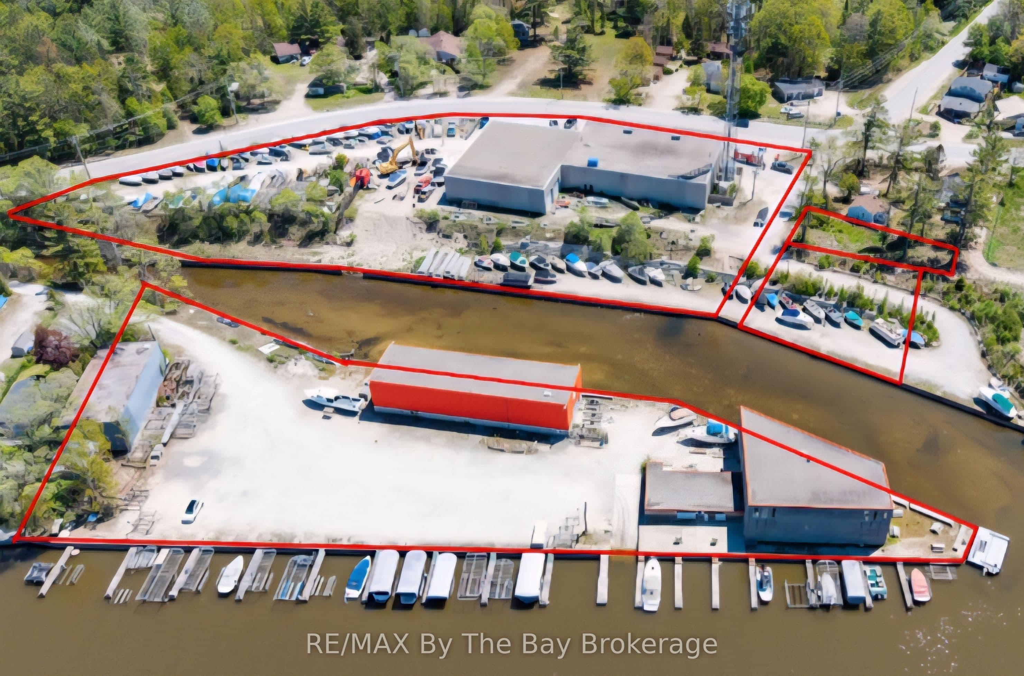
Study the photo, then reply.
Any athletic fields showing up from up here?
No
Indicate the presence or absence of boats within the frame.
Yes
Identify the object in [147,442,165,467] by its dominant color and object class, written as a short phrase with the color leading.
white vehicle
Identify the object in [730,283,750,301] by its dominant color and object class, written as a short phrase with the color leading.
white boat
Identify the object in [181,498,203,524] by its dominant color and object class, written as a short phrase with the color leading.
white car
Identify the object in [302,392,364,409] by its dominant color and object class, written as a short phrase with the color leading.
white boat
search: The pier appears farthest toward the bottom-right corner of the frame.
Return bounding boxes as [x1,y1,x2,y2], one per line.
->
[897,566,915,609]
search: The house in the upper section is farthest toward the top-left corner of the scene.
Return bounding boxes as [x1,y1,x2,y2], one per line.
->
[274,38,300,64]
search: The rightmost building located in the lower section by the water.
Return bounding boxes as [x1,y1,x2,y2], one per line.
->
[739,405,893,550]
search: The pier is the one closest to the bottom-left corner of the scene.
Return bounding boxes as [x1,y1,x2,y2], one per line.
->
[38,548,74,596]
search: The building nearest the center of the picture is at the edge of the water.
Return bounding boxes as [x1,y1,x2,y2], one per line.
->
[366,341,587,436]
